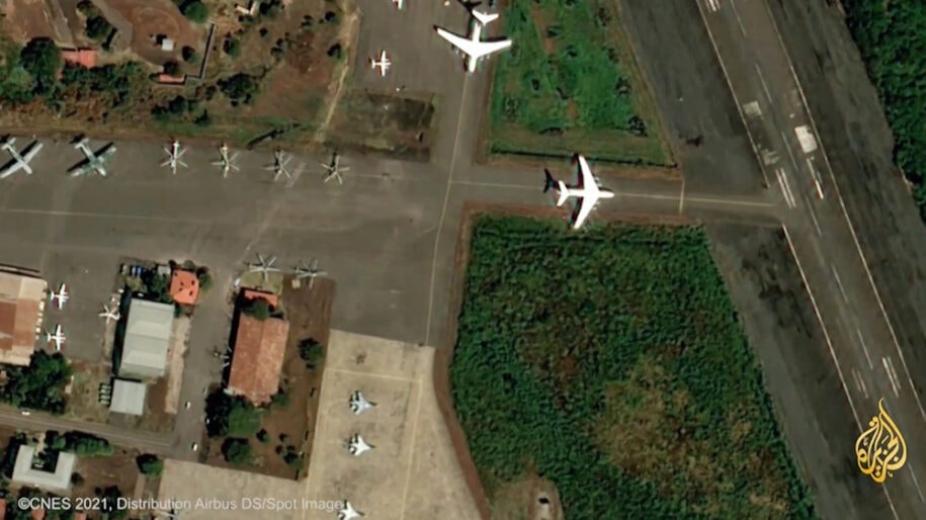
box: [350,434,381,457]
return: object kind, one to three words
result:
airplane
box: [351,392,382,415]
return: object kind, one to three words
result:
airplane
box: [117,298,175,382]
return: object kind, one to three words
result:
hangar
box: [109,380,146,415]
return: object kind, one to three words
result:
shed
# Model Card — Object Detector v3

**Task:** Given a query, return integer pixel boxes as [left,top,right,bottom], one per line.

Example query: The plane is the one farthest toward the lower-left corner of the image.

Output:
[48,325,67,351]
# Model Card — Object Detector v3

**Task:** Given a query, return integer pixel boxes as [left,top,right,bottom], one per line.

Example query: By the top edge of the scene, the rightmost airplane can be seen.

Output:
[439,12,511,74]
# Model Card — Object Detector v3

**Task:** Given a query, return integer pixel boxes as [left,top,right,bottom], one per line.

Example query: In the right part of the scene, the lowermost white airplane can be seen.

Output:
[557,155,616,230]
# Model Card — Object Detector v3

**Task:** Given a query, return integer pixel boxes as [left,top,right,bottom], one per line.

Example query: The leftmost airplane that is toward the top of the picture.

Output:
[0,137,43,178]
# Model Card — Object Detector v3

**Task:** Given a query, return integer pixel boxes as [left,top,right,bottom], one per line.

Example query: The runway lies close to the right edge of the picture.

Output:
[696,0,926,520]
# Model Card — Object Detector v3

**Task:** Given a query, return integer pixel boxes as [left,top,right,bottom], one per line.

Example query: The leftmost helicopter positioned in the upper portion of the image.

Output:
[160,138,188,175]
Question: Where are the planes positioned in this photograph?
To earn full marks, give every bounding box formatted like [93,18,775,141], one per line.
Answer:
[439,12,511,74]
[351,392,382,415]
[557,155,616,230]
[397,0,405,10]
[0,137,43,178]
[338,501,369,520]
[350,434,381,457]
[373,50,391,76]
[51,284,70,309]
[48,325,67,351]
[71,138,117,177]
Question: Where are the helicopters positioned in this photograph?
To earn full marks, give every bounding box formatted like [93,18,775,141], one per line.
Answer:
[211,142,240,179]
[265,148,291,183]
[322,151,351,184]
[245,254,280,284]
[295,259,329,289]
[160,138,188,175]
[103,300,119,325]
